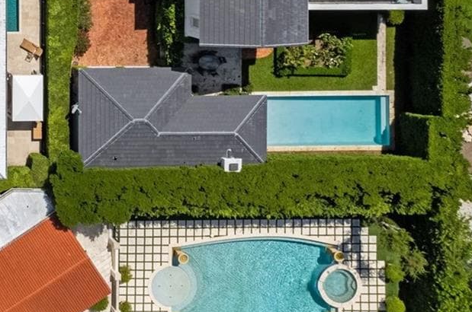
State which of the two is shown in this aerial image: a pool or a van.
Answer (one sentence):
There is a pool in the scene.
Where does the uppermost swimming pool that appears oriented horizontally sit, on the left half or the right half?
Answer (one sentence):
It is on the right.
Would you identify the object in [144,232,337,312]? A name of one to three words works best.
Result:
swimming pool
